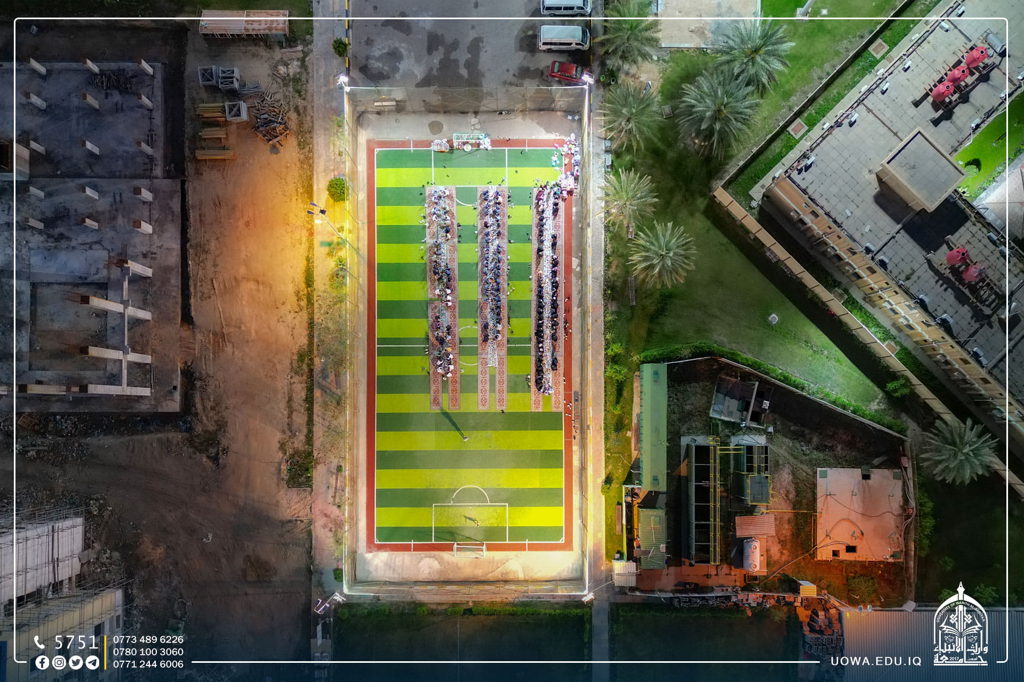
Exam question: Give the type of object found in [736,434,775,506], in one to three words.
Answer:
storage tank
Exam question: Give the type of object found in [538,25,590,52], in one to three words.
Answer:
vehicle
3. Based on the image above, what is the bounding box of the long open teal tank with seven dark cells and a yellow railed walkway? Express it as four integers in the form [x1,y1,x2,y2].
[687,434,721,567]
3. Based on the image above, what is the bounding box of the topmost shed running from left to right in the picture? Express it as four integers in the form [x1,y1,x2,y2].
[199,10,292,38]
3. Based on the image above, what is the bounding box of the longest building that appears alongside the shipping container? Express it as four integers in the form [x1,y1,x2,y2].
[640,364,667,491]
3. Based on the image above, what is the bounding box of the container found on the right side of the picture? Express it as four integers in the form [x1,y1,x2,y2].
[636,505,665,569]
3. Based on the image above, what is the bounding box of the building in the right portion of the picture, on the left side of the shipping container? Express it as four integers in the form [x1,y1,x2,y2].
[609,556,636,586]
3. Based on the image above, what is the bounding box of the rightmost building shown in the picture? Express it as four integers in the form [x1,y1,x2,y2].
[970,161,1024,255]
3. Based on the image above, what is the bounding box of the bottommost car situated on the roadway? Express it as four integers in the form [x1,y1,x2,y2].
[548,59,592,85]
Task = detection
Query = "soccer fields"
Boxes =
[366,139,573,552]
